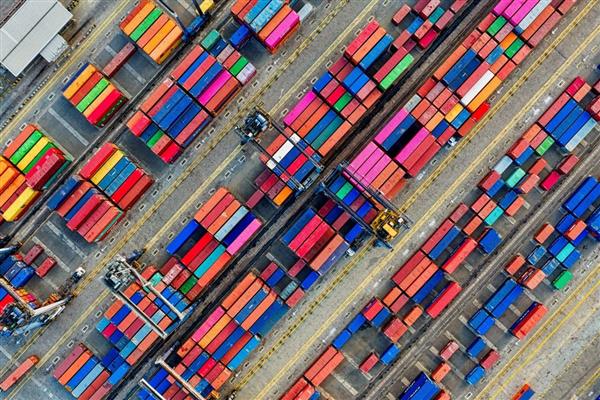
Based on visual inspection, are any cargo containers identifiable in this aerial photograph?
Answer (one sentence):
Yes, there's a cargo container down there.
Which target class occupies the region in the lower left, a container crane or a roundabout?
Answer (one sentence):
Visible in the lower left is a container crane.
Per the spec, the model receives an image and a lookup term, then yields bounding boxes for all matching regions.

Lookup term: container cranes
[0,282,74,340]
[231,102,325,197]
[152,0,209,43]
[139,336,240,400]
[96,243,206,339]
[313,159,411,249]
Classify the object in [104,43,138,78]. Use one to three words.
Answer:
shipping container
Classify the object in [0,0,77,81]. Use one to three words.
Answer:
building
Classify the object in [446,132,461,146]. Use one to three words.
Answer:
vehicle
